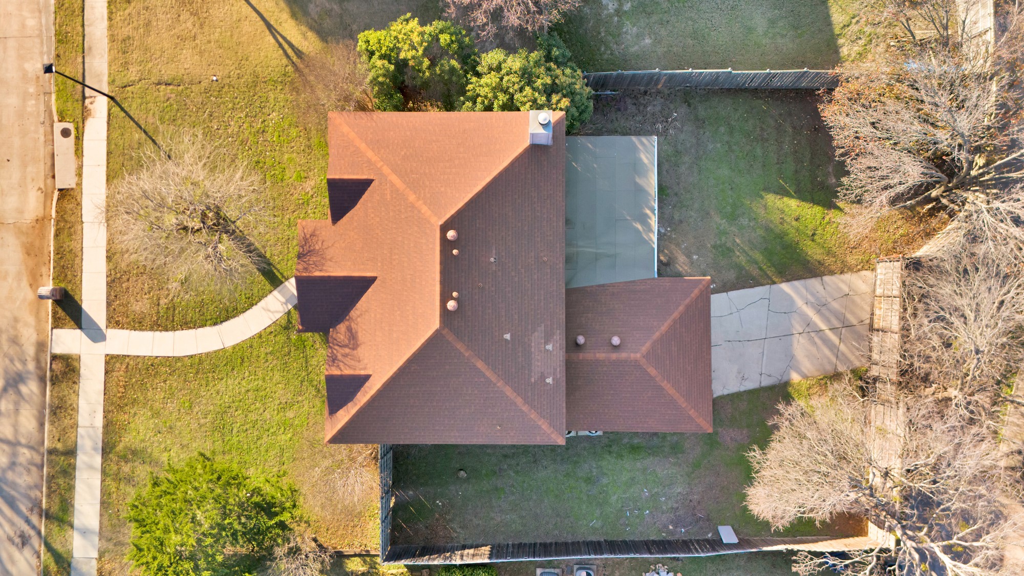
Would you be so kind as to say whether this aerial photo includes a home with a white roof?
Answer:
No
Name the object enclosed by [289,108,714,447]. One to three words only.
house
